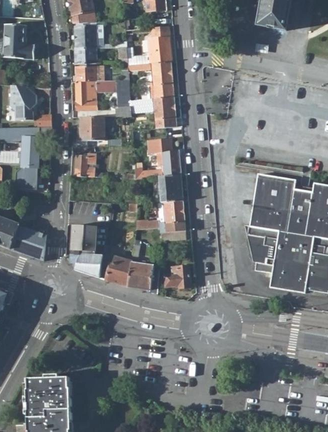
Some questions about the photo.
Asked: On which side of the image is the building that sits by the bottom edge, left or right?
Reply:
left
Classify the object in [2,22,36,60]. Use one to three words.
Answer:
house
